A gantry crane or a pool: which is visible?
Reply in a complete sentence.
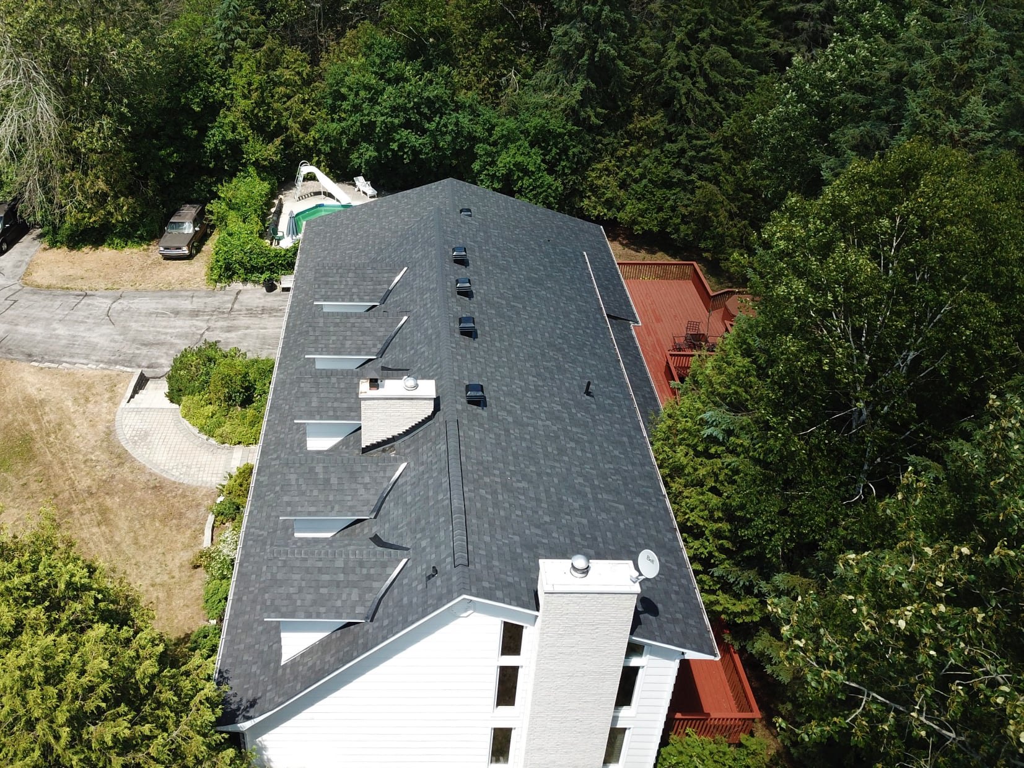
Of the two, only a pool appears.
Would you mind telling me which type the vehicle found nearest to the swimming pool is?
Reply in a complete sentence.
It looks like the vehicle found nearest to the swimming pool is an automobile.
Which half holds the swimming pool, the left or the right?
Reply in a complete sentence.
The swimming pool is on the left side of the image.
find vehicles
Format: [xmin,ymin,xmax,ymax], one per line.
[0,189,53,256]
[157,193,213,253]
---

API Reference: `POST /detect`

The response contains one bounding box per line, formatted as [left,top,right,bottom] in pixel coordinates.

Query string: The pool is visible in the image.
[287,204,368,253]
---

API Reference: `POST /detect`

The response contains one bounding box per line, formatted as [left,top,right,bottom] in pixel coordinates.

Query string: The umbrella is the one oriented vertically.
[285,207,297,234]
